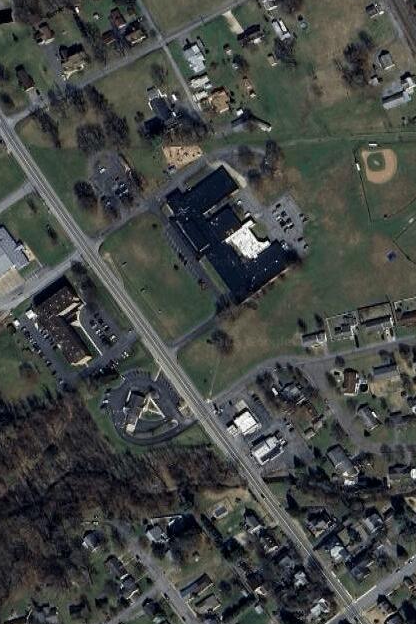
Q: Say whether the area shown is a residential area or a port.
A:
residential area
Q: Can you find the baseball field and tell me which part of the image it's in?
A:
top right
